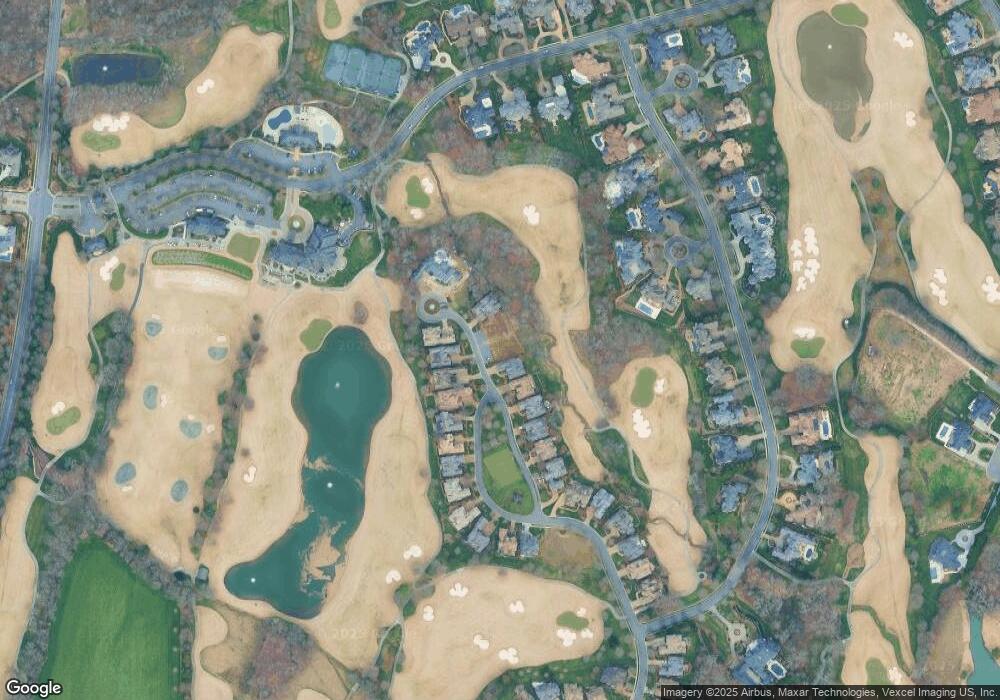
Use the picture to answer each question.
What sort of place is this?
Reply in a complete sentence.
The area seen from above is a golf course.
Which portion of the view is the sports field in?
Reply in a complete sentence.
You can find the sports field in the bottom left area of the picture.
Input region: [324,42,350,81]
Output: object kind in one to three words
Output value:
tennis court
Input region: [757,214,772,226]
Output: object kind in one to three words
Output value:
swimming pool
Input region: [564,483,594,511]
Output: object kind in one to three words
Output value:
house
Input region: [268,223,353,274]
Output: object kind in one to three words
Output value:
building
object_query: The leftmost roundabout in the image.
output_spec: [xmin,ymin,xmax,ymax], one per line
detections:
[278,206,313,240]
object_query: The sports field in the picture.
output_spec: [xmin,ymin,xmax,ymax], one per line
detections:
[27,539,188,700]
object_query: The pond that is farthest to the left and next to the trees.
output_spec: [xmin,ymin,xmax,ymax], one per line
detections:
[73,54,160,83]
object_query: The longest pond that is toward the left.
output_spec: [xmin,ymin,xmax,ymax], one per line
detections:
[226,327,391,618]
